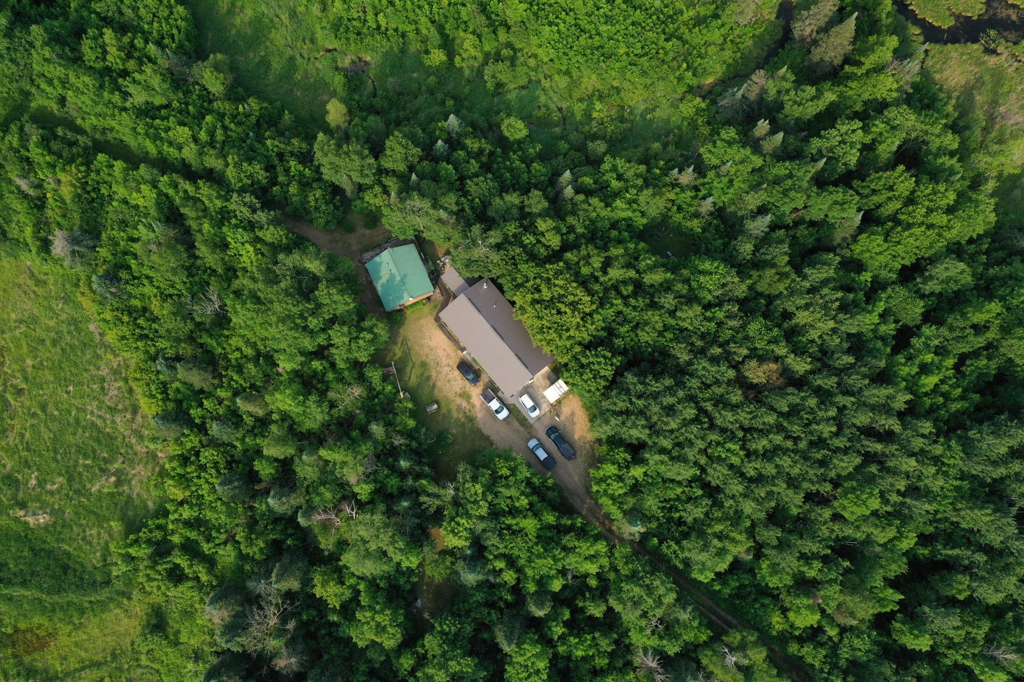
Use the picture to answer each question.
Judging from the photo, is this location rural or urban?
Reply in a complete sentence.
The area shown here is rural.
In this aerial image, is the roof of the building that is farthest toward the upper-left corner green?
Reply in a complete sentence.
Yes, the roof of the building that is farthest toward the upper-left corner is green.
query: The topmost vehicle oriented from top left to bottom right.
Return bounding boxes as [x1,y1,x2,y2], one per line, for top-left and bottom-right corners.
[455,359,481,389]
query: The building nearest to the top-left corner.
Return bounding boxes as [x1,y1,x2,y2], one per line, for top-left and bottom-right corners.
[365,244,434,311]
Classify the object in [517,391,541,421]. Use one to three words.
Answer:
car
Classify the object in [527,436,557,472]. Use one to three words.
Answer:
truck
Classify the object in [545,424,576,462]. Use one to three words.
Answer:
truck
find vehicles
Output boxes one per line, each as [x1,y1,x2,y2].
[527,436,557,472]
[455,359,481,389]
[478,386,510,421]
[545,424,576,462]
[517,391,541,421]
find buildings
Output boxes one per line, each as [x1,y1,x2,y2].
[365,244,434,311]
[439,277,557,399]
